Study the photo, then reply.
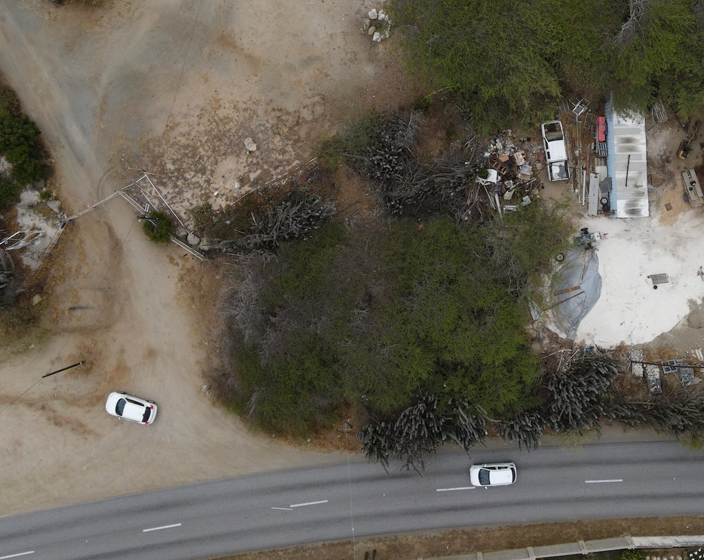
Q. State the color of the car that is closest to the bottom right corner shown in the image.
white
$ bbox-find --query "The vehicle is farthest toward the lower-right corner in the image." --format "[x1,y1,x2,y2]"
[470,461,518,488]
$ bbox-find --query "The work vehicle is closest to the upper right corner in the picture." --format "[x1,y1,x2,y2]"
[671,127,698,163]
